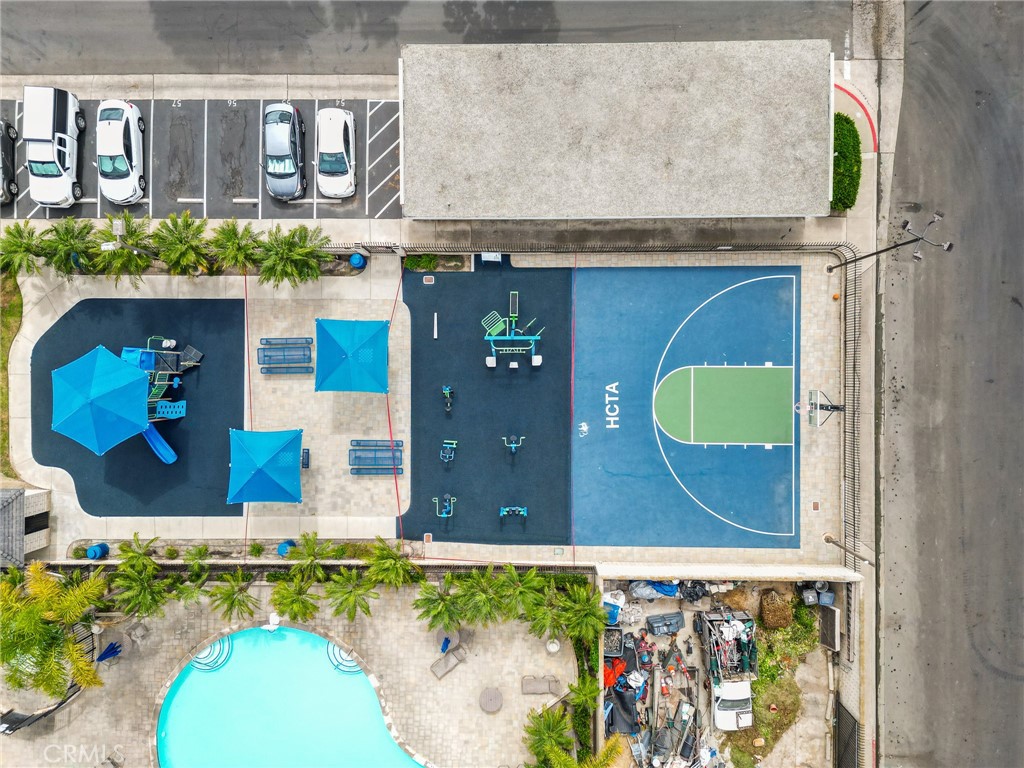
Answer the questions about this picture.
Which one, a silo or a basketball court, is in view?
basketball court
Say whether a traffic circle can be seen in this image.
No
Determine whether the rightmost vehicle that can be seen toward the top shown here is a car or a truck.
car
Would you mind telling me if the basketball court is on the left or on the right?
right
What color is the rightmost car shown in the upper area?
white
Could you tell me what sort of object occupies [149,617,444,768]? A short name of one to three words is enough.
swimming pool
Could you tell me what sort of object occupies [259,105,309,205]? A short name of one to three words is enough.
car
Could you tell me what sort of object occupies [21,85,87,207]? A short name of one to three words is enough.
truck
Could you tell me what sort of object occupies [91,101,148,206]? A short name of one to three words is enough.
car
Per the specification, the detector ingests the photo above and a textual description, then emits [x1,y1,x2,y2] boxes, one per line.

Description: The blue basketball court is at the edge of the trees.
[572,265,801,548]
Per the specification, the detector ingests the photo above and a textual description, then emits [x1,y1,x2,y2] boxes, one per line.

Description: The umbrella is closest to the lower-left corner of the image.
[98,643,119,661]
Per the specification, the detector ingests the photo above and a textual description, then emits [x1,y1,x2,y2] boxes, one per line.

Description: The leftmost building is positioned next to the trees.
[0,487,48,569]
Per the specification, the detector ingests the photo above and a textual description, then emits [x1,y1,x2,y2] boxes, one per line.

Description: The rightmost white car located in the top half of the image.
[311,107,359,198]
